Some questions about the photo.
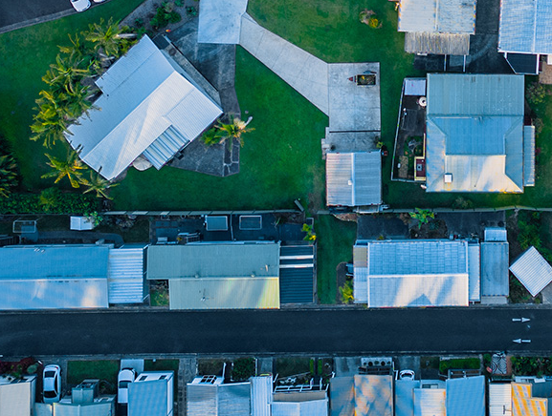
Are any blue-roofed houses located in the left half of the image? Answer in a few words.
Yes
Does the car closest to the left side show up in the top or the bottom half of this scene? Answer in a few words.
bottom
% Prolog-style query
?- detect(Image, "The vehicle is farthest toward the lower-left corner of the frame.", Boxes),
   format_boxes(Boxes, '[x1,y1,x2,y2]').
[39,363,63,402]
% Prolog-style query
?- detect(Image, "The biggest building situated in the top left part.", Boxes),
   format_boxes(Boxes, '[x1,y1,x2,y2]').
[64,33,225,181]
